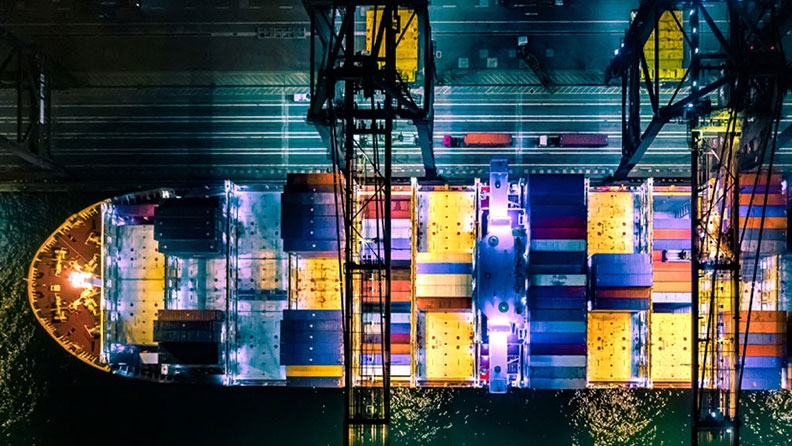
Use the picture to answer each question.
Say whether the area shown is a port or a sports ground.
port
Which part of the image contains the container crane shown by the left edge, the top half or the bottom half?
top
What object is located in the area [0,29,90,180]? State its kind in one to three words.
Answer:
container crane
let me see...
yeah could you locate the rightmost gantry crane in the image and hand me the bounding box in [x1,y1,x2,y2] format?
[597,0,792,446]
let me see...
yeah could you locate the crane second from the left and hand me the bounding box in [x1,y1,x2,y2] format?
[302,0,452,446]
